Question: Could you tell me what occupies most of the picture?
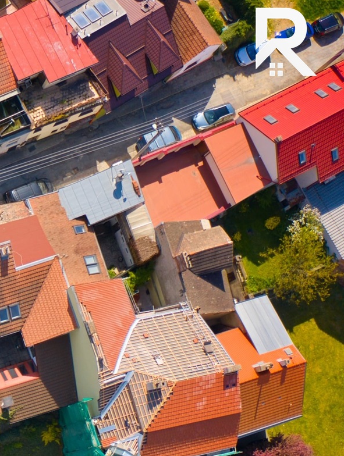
buildings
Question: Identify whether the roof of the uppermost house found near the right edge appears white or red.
red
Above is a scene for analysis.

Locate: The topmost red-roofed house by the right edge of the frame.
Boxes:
[232,61,344,206]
